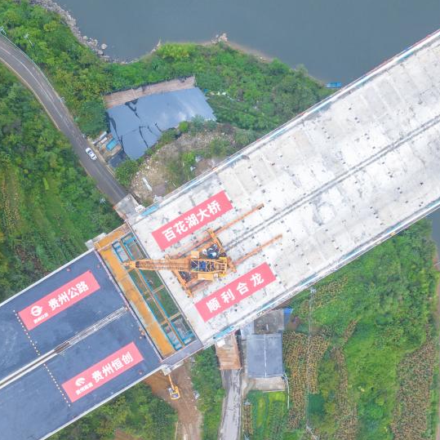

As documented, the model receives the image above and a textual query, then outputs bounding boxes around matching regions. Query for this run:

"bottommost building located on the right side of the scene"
[246,333,282,377]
